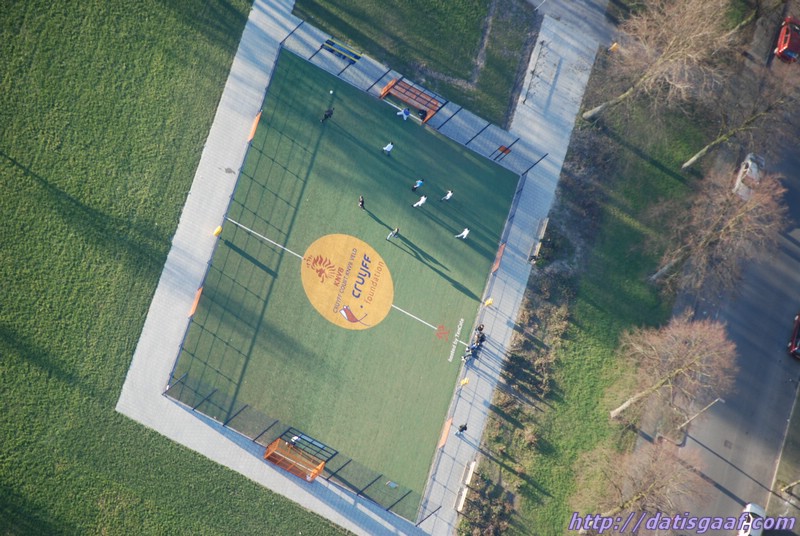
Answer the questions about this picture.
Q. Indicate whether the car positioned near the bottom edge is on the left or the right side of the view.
right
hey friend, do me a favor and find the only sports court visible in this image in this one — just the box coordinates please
[163,44,522,526]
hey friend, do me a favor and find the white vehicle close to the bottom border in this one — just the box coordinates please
[738,503,765,536]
